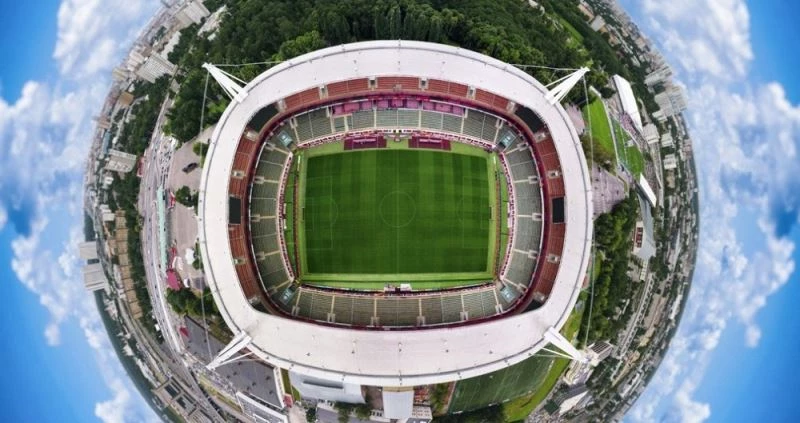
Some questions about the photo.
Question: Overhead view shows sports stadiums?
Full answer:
Yes, the photo shows a sports stadium.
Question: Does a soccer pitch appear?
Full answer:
Yes, you can see a soccer pitch in this photo.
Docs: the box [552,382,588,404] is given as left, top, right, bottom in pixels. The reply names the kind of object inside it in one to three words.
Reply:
shed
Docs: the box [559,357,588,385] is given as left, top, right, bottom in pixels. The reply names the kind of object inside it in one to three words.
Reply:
building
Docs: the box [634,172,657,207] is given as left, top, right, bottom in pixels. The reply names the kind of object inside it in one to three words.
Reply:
building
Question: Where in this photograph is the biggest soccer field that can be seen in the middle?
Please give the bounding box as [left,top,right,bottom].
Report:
[279,131,513,295]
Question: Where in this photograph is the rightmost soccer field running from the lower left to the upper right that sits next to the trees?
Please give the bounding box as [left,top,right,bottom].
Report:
[449,320,580,423]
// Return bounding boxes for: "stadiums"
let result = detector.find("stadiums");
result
[197,40,594,390]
